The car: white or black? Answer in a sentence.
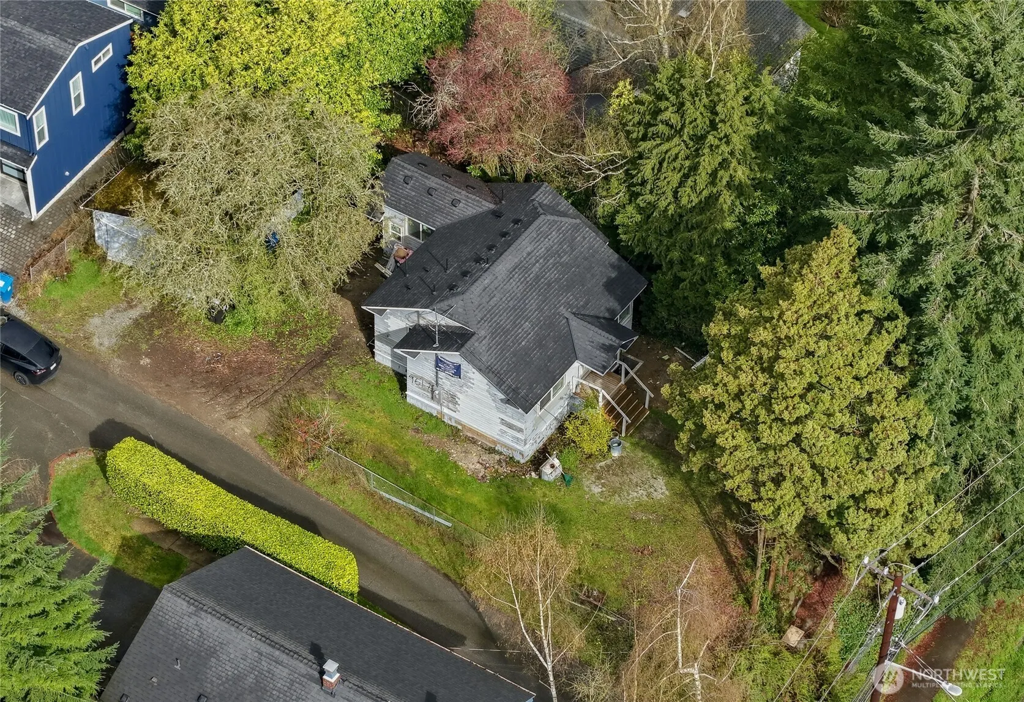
In this view, the car is black.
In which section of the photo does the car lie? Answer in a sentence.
You can find the car in the left area of the picture.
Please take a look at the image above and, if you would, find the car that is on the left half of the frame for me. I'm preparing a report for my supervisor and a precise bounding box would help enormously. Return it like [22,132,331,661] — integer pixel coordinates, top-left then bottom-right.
[0,306,70,389]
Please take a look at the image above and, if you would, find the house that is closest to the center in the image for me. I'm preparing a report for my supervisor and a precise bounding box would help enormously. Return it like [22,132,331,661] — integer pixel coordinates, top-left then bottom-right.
[357,151,655,461]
